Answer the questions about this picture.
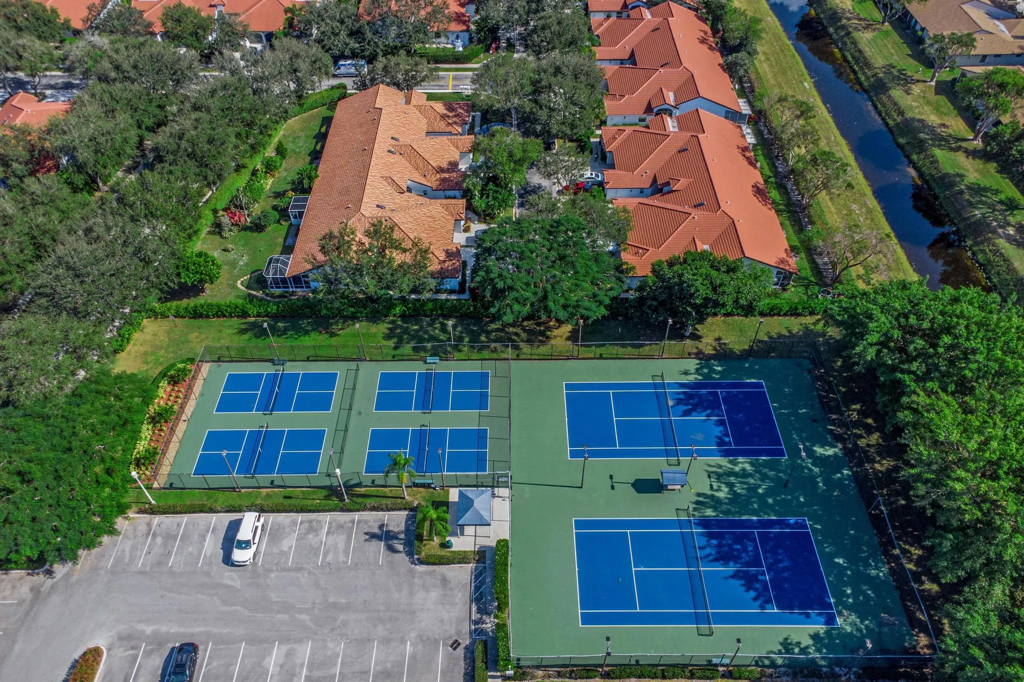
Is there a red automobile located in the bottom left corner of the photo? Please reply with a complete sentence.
No, there's no red automobile to be seen in the bottom left corner of the photo.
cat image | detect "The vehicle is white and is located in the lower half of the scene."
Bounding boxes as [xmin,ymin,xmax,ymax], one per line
[231,514,262,563]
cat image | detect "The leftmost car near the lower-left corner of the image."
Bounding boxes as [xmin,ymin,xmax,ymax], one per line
[161,640,197,682]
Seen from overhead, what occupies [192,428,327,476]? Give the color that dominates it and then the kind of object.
blue sports court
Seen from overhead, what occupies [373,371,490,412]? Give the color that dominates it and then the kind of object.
blue sports court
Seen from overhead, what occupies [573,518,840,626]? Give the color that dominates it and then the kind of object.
blue tennis court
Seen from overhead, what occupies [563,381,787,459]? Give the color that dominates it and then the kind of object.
blue tennis court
